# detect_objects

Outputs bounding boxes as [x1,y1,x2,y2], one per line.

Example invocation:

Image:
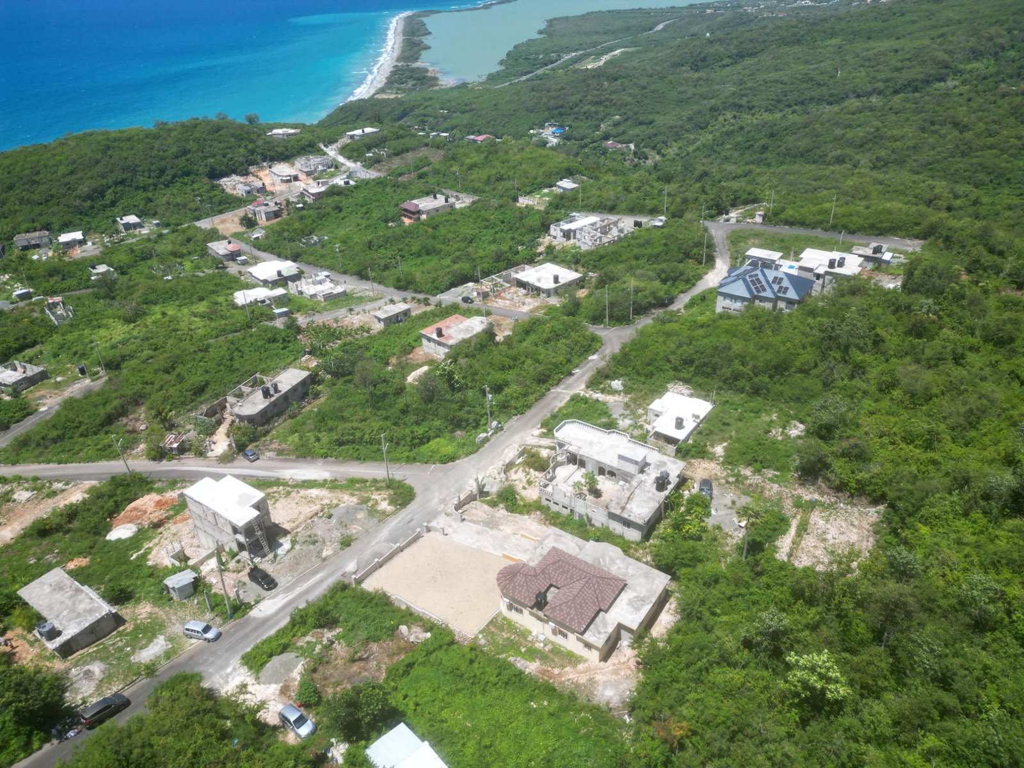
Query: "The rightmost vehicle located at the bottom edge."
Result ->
[275,702,316,740]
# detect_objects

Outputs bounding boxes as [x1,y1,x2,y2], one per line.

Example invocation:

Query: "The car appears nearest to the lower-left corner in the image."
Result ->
[74,693,133,732]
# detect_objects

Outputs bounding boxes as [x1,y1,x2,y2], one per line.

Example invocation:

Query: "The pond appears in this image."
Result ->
[420,0,705,82]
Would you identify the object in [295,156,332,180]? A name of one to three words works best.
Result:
house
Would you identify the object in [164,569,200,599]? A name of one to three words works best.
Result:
shed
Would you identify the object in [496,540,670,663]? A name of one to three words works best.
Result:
house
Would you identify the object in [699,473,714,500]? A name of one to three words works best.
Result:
car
